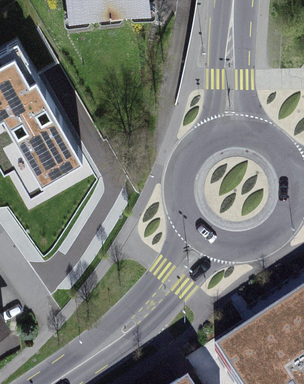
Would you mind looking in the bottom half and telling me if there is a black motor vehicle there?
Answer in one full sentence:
Yes, looking in the bottom half, one can make out a black motor vehicle.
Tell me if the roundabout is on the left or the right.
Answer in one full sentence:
The roundabout is on the right side of the image.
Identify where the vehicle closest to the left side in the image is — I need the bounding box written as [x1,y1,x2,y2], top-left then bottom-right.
[2,305,24,321]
